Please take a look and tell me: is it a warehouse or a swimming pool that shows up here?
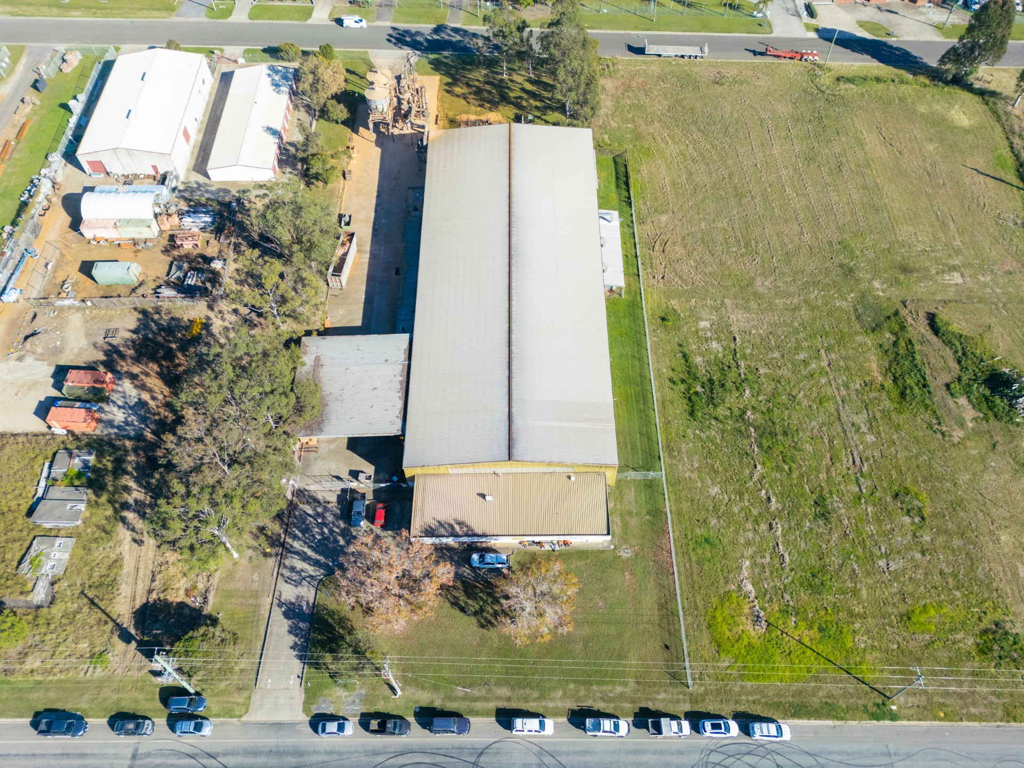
warehouse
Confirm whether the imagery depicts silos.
Yes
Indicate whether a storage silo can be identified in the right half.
No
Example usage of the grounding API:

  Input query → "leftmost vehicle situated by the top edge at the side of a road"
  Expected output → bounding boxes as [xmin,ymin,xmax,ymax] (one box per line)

[341,15,367,29]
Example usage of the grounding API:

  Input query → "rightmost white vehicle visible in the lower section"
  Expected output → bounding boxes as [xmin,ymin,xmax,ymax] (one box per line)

[748,719,791,740]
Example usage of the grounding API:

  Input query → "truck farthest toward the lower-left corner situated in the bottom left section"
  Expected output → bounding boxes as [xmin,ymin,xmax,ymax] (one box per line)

[33,714,90,736]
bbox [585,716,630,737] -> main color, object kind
white truck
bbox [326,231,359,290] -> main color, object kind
white trailer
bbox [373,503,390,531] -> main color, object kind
red car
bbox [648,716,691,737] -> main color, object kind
white truck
